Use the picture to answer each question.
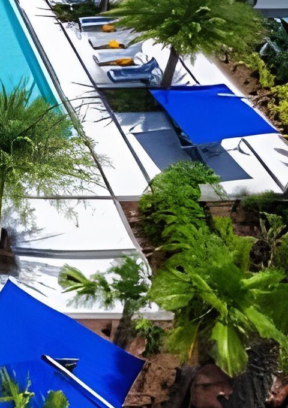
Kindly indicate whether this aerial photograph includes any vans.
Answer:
No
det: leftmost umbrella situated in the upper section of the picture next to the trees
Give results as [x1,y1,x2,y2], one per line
[150,83,278,167]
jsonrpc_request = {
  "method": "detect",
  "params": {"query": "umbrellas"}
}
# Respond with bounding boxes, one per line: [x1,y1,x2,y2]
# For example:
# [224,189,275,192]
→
[150,83,278,167]
[0,278,144,408]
